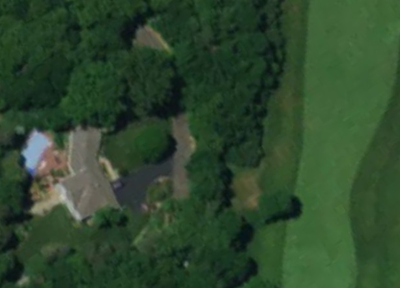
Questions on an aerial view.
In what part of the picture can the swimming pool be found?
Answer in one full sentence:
The swimming pool is located in the left region of the scene.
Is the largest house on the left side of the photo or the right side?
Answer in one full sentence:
It is on the left.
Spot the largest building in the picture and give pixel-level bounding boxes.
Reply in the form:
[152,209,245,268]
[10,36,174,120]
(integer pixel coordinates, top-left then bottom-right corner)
[58,123,123,224]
